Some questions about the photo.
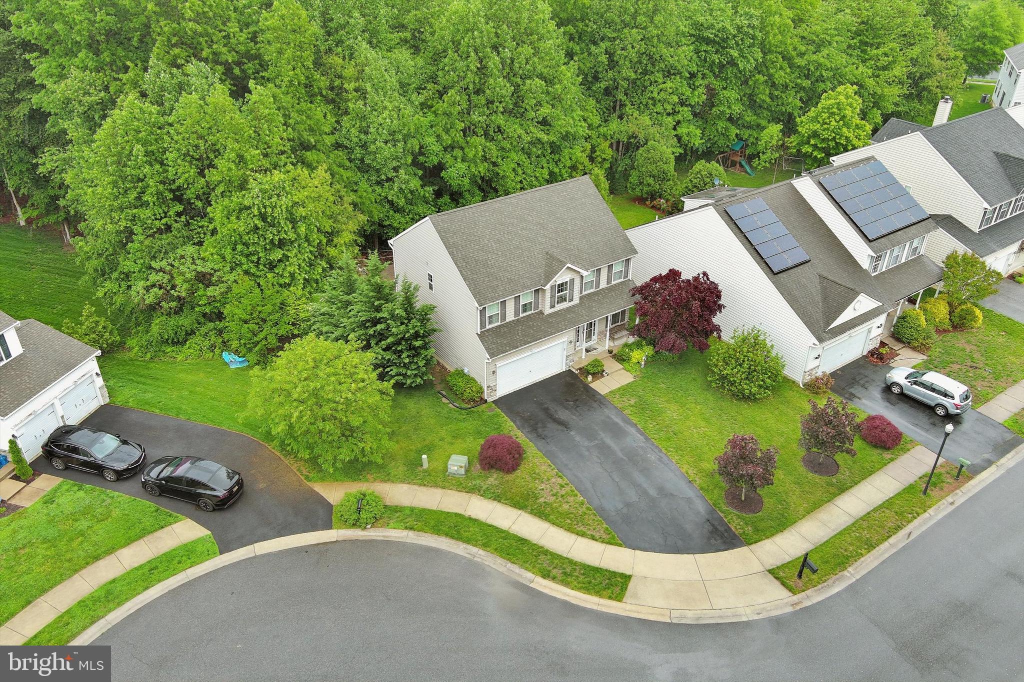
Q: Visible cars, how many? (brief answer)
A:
3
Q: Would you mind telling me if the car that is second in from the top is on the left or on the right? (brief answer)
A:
left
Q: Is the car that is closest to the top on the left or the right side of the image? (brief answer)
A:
right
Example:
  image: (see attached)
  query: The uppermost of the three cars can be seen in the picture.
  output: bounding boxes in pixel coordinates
[888,365,974,415]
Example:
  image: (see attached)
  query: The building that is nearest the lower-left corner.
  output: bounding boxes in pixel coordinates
[0,306,109,470]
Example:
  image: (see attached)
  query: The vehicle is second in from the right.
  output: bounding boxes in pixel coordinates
[138,454,245,511]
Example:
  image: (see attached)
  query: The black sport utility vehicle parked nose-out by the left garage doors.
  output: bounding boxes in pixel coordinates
[40,424,147,481]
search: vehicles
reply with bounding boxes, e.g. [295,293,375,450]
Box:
[138,454,245,511]
[888,365,974,415]
[40,424,147,481]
